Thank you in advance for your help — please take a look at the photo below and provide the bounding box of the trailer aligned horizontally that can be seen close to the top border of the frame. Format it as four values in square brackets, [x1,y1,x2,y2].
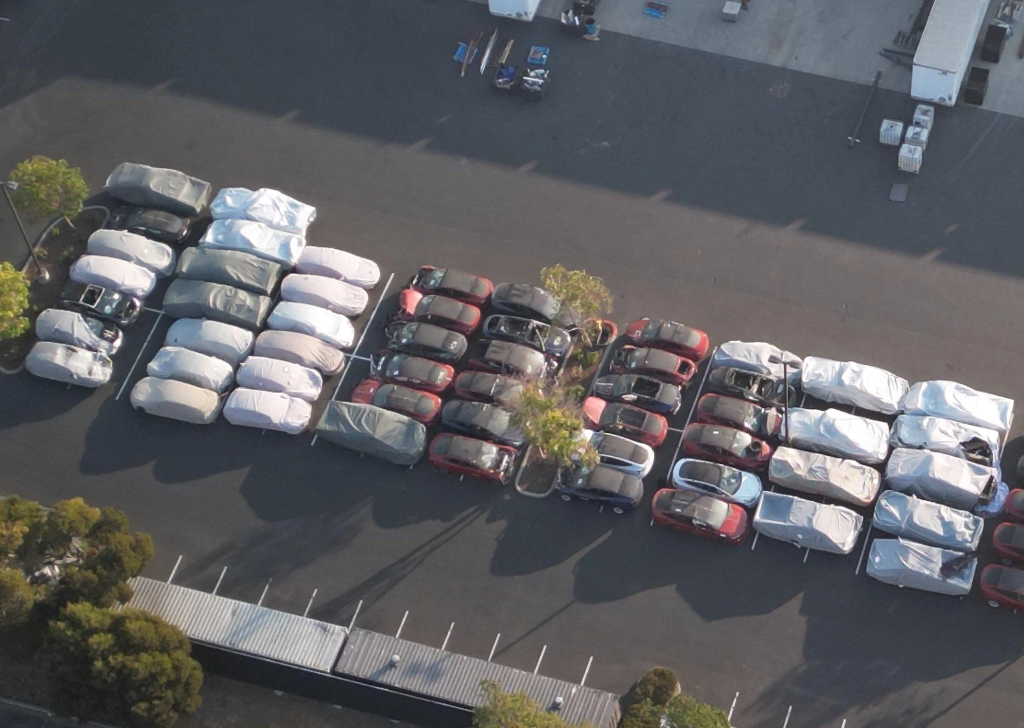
[489,0,541,21]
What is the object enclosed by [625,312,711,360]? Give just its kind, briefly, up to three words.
car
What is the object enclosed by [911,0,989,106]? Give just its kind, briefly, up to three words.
trailer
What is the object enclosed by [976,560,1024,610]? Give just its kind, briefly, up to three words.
car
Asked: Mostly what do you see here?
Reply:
paved ground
